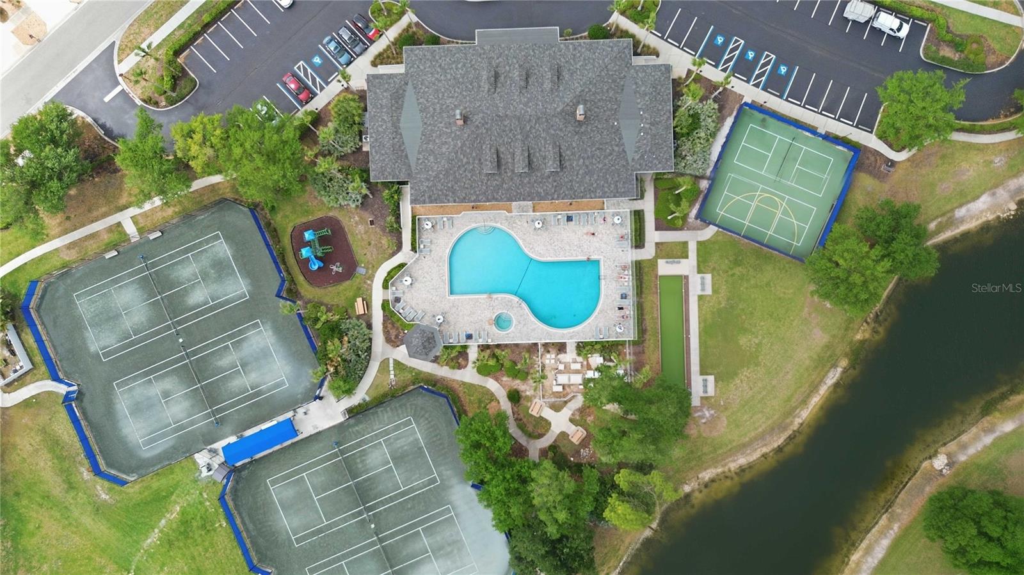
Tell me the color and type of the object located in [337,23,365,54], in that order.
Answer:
gray car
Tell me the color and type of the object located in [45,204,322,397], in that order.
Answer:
gray tennis court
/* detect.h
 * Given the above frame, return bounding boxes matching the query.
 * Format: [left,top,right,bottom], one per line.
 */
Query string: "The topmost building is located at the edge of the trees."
[366,26,675,206]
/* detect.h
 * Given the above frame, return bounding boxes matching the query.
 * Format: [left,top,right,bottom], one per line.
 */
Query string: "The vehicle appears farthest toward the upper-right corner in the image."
[871,10,909,37]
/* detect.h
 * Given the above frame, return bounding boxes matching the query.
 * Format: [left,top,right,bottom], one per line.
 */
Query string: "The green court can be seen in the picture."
[700,108,854,255]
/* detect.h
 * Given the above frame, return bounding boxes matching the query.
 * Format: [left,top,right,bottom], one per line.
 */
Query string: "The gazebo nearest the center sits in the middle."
[404,324,443,361]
